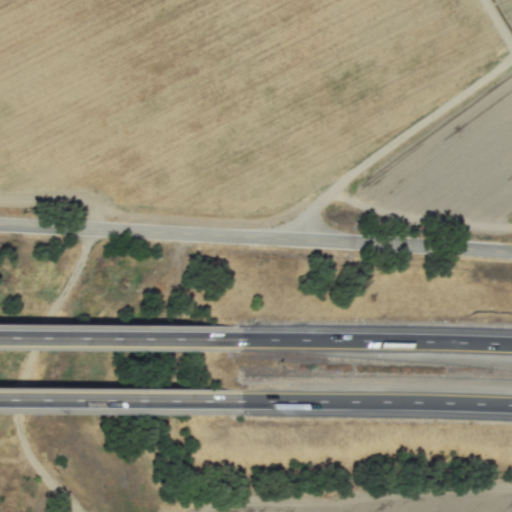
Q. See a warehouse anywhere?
No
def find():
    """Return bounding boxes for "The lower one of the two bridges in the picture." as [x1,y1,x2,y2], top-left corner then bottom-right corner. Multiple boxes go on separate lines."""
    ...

[0,388,242,416]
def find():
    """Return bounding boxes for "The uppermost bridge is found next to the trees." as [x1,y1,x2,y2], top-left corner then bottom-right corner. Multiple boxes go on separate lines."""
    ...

[0,324,242,352]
